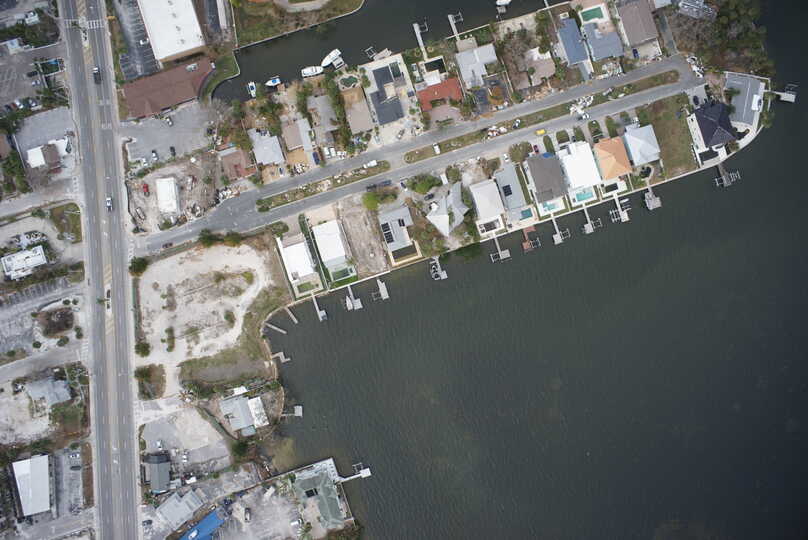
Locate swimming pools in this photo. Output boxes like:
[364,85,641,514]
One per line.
[578,4,608,24]
[389,61,403,78]
[698,149,720,162]
[342,76,358,87]
[575,190,595,201]
[331,267,354,281]
[481,217,503,233]
[520,208,533,220]
[38,58,61,76]
[604,182,619,193]
[640,167,653,178]
[297,281,316,294]
[541,201,560,212]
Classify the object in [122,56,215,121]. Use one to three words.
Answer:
building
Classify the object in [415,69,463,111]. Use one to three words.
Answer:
house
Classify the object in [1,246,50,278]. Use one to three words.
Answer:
building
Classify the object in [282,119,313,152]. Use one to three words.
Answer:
house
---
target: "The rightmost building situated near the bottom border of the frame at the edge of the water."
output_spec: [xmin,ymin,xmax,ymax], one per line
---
[294,474,344,528]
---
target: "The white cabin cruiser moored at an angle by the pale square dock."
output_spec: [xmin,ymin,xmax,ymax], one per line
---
[323,48,342,66]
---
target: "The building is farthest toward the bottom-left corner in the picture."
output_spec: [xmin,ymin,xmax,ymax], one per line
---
[12,453,54,516]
